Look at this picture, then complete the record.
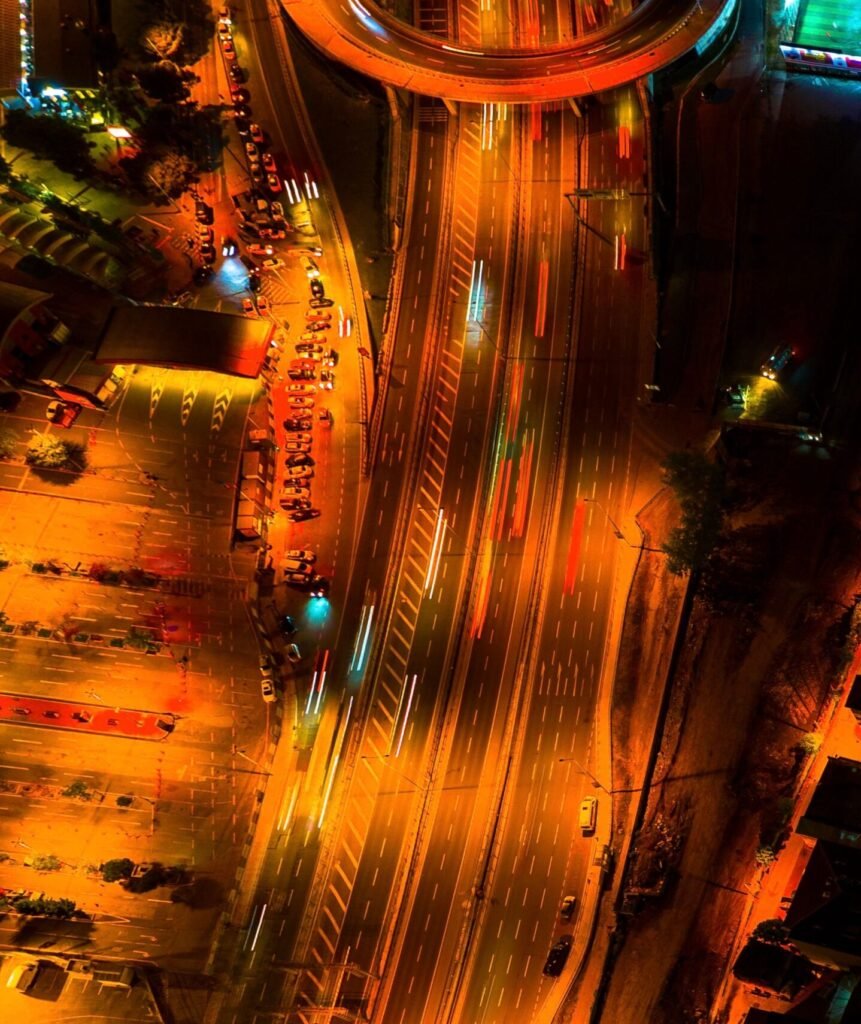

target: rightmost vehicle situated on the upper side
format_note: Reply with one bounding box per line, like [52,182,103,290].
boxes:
[765,346,787,373]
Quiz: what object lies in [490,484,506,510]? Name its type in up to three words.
vehicle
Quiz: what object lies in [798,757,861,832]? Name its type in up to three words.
house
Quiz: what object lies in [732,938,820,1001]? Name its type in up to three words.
house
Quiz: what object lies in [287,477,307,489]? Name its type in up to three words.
vehicle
